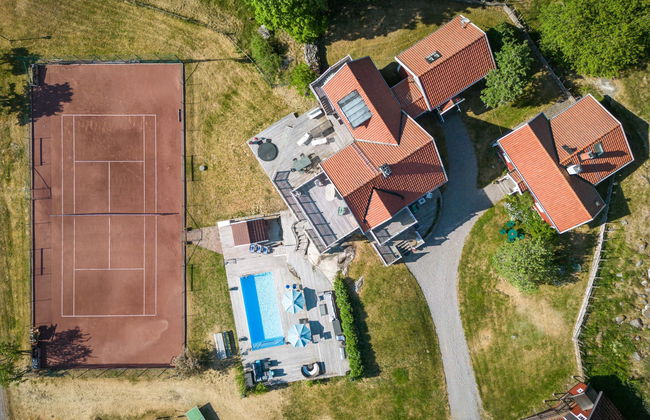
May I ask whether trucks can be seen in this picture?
No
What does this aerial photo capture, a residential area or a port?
residential area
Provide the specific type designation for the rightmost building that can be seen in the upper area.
residential house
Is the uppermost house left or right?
right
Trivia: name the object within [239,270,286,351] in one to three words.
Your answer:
swimming pool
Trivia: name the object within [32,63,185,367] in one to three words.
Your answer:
tennis court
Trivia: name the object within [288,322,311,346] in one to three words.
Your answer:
umbrella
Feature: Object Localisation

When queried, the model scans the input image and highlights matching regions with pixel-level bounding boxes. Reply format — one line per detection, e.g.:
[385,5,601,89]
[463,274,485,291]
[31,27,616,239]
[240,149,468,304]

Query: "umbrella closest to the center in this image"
[281,288,306,313]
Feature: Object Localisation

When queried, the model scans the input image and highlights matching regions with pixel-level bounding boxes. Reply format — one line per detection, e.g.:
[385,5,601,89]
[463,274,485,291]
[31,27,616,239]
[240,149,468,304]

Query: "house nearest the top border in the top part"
[392,14,496,124]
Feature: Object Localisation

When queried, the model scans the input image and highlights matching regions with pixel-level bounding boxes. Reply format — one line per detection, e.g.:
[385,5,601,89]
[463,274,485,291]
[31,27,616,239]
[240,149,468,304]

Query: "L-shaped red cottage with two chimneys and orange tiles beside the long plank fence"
[482,93,634,235]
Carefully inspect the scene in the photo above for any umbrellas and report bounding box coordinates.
[288,322,311,346]
[281,288,306,313]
